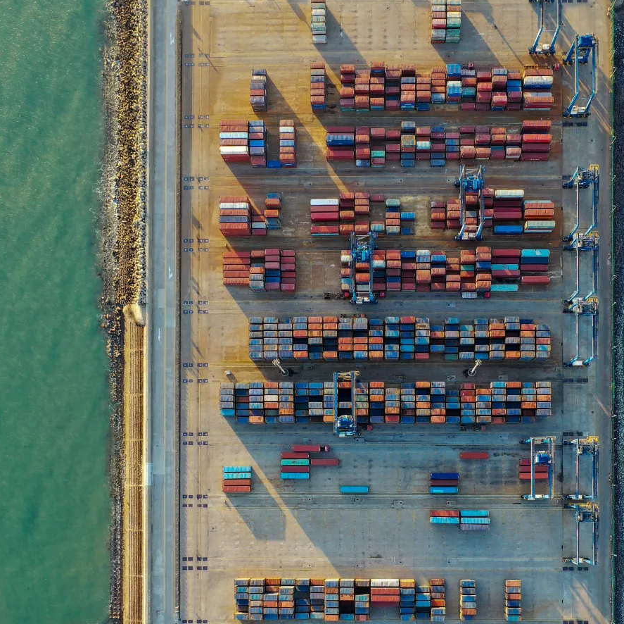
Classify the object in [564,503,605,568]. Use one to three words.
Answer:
container crane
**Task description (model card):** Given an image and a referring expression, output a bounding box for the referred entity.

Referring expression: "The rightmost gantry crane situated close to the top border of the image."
[565,30,605,115]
